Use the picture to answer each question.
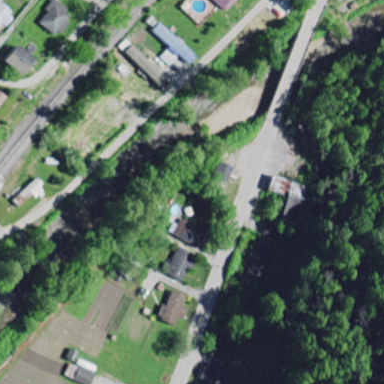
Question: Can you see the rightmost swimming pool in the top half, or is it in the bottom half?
top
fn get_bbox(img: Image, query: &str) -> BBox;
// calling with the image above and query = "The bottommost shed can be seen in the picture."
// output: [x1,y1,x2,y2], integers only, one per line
[64,364,94,384]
